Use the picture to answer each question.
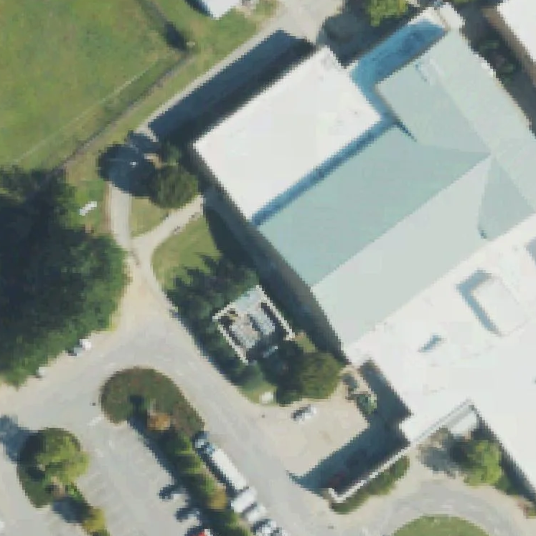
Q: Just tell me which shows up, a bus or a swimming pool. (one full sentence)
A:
Looking from above, you can make out a bus.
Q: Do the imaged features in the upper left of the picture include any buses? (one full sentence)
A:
No, the scene shows no bus in the upper left of the picture.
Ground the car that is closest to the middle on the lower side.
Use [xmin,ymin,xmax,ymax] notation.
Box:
[290,404,315,423]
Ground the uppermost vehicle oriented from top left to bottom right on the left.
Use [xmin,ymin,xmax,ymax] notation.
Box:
[190,427,211,451]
